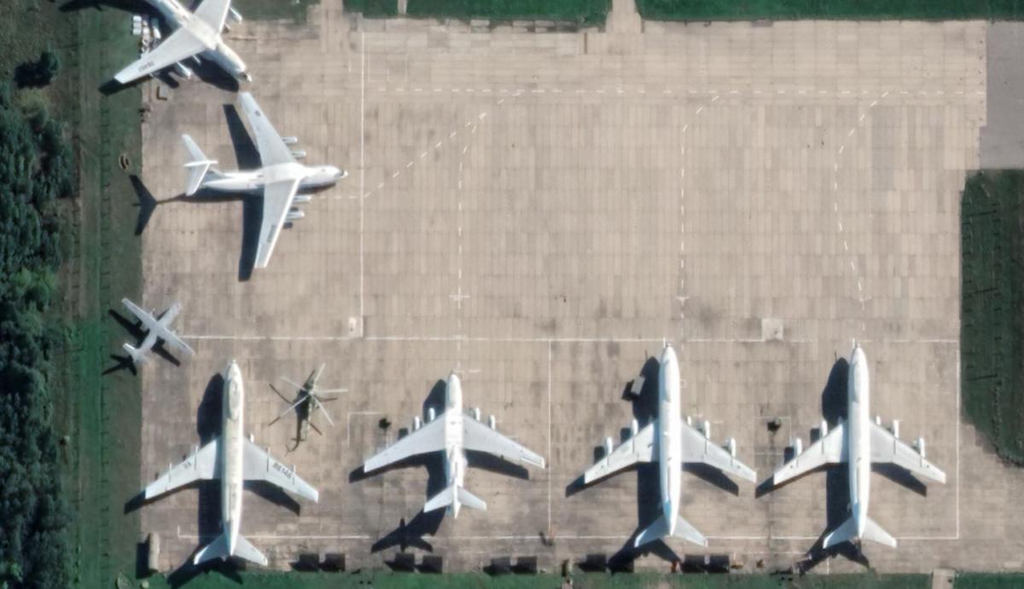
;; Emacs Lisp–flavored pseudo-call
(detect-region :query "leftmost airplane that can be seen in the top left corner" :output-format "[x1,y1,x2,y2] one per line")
[115,0,250,82]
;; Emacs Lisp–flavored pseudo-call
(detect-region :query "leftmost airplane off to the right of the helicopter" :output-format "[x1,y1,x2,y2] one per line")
[368,369,544,517]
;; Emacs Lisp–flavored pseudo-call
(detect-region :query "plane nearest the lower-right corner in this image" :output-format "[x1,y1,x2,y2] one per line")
[773,335,946,549]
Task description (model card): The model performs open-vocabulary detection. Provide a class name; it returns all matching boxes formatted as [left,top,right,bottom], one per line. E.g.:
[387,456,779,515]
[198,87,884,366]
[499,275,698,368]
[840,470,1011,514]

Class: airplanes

[145,359,318,565]
[585,334,757,548]
[368,369,544,517]
[123,297,197,366]
[773,335,946,549]
[115,0,250,82]
[180,90,347,266]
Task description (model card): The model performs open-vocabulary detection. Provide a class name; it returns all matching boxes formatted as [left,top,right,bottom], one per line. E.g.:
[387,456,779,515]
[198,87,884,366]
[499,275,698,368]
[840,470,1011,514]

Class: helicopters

[279,361,347,438]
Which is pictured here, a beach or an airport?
airport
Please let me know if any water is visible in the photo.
No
